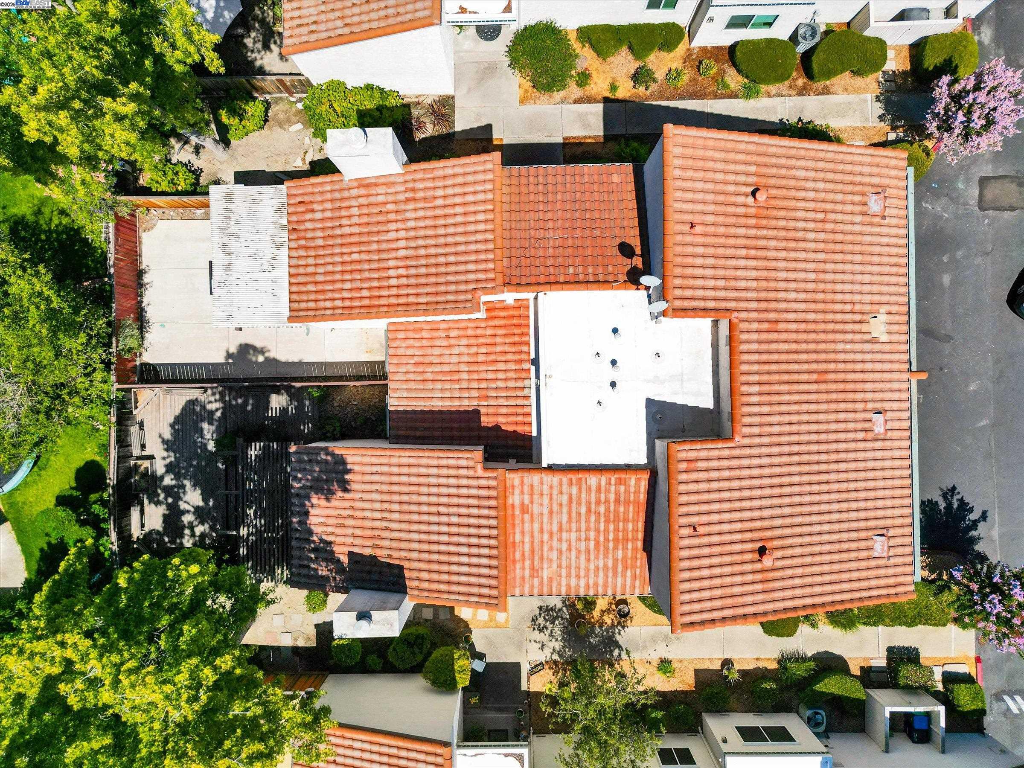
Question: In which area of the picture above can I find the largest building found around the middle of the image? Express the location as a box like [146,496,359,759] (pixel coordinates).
[280,119,940,638]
